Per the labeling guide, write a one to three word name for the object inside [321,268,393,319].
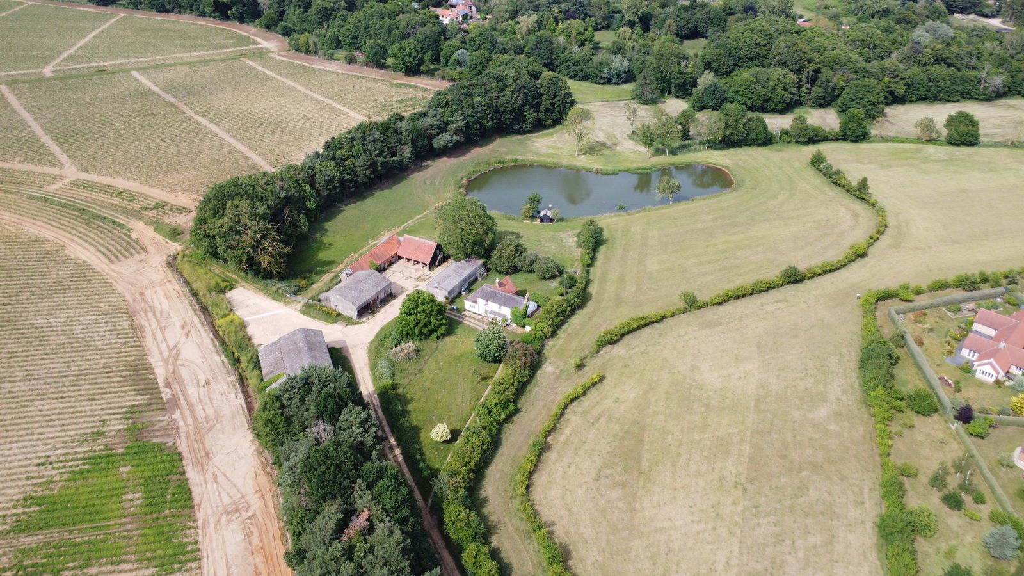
barn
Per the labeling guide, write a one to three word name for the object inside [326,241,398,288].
shed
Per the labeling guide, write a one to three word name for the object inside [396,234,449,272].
shed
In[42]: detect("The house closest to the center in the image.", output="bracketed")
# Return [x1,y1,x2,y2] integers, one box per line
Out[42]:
[464,275,537,328]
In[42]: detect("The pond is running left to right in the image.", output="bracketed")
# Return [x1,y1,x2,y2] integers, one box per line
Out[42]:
[466,164,733,218]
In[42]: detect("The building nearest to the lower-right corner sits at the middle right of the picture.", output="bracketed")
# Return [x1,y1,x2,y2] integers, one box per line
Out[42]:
[959,308,1024,385]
